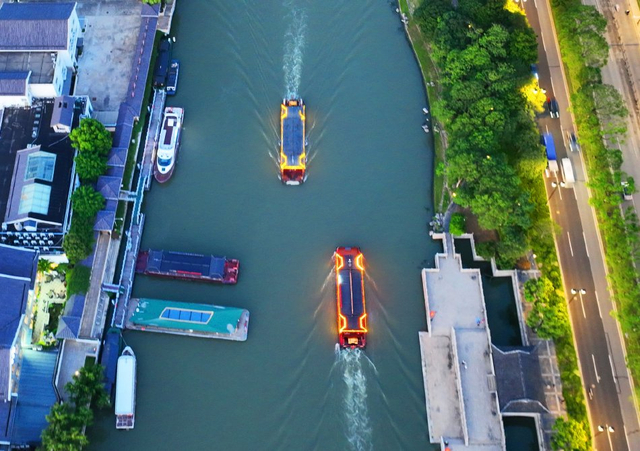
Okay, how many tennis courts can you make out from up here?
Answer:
0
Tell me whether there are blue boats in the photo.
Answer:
Yes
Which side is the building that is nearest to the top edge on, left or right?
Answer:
left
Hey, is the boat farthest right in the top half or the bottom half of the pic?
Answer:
bottom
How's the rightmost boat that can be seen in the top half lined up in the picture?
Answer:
vertically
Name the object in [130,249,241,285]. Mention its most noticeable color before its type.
blue boat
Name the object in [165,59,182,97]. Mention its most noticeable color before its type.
blue boat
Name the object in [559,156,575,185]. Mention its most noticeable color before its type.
white vehicle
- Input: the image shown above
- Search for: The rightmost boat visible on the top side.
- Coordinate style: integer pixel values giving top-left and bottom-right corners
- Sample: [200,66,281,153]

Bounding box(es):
[278,97,306,184]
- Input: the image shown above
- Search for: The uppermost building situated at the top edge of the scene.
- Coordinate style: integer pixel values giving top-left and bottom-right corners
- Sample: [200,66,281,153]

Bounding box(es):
[0,1,89,68]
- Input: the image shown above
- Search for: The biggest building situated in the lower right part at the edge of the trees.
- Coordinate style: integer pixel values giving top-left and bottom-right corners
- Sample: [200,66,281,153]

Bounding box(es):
[492,341,552,414]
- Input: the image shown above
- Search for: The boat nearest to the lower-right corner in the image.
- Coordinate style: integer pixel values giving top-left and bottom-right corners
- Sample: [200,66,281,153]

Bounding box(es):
[335,242,369,350]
